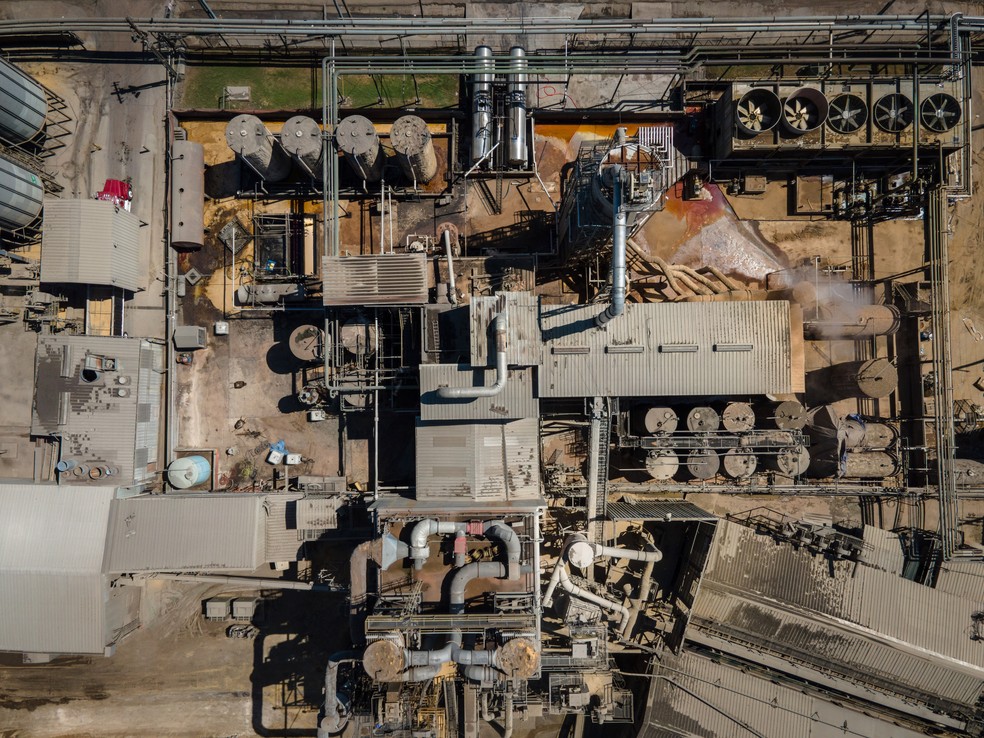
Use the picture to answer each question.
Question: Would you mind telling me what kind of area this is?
industrial area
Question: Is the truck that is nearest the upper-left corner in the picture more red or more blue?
red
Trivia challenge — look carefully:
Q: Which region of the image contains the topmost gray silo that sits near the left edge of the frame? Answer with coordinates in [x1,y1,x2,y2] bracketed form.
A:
[0,54,76,156]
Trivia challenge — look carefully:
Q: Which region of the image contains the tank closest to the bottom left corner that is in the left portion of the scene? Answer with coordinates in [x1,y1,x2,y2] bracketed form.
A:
[152,453,216,490]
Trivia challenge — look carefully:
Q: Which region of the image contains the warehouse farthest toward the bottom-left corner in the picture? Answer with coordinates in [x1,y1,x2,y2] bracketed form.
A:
[0,475,148,656]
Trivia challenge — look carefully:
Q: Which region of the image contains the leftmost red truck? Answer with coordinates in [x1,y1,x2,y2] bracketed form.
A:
[86,176,137,209]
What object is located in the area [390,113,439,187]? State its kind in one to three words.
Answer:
storage tank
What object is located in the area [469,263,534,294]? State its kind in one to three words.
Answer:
shed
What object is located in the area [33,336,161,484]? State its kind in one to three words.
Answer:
building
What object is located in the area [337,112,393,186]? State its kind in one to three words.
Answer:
storage tank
